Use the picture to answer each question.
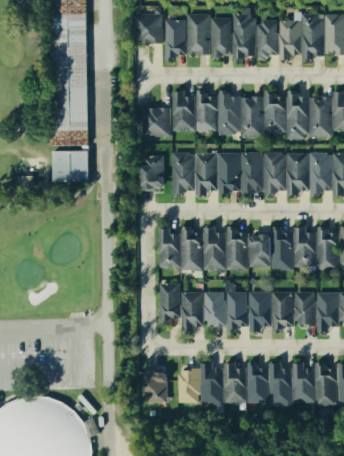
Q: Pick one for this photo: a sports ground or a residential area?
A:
residential area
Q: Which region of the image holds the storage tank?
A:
bottom left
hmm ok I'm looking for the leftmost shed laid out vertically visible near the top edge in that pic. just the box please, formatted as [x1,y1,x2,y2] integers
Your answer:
[50,0,86,146]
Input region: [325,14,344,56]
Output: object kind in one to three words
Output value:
house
